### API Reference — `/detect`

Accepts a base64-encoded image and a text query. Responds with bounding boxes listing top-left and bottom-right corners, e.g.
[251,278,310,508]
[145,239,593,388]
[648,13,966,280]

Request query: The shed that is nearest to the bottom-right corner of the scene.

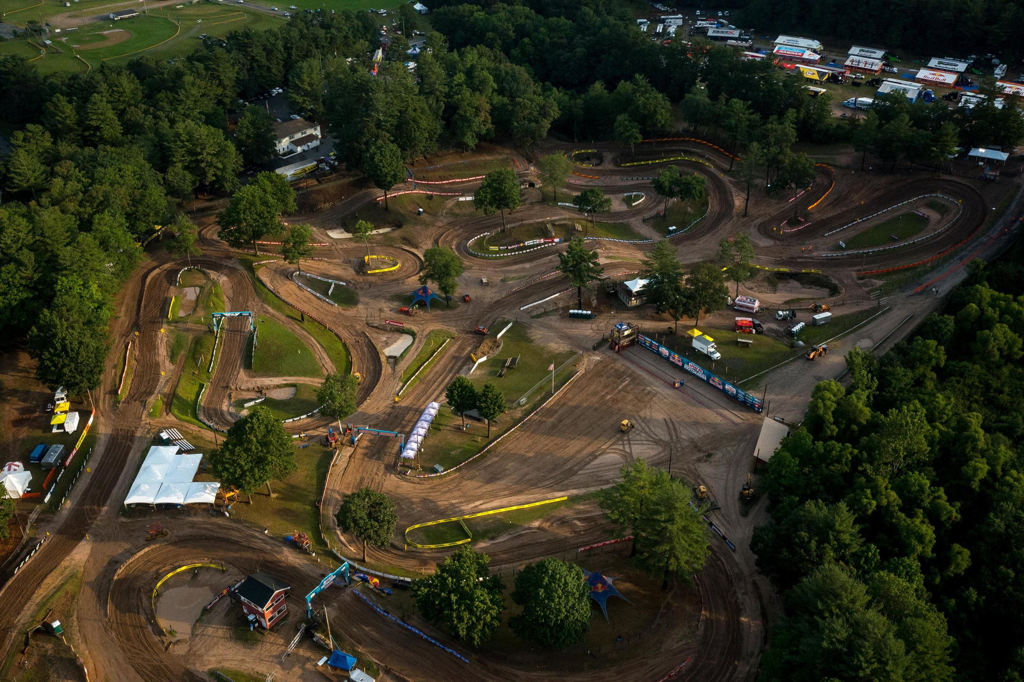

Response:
[753,417,791,474]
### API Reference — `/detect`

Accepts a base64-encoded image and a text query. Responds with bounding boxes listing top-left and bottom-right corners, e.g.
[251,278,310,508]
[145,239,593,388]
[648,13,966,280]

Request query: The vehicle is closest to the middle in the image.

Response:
[469,323,492,336]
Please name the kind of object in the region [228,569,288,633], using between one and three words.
house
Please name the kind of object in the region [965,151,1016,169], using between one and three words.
tent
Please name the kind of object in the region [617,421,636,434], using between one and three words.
vehicle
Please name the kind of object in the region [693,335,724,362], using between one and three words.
truck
